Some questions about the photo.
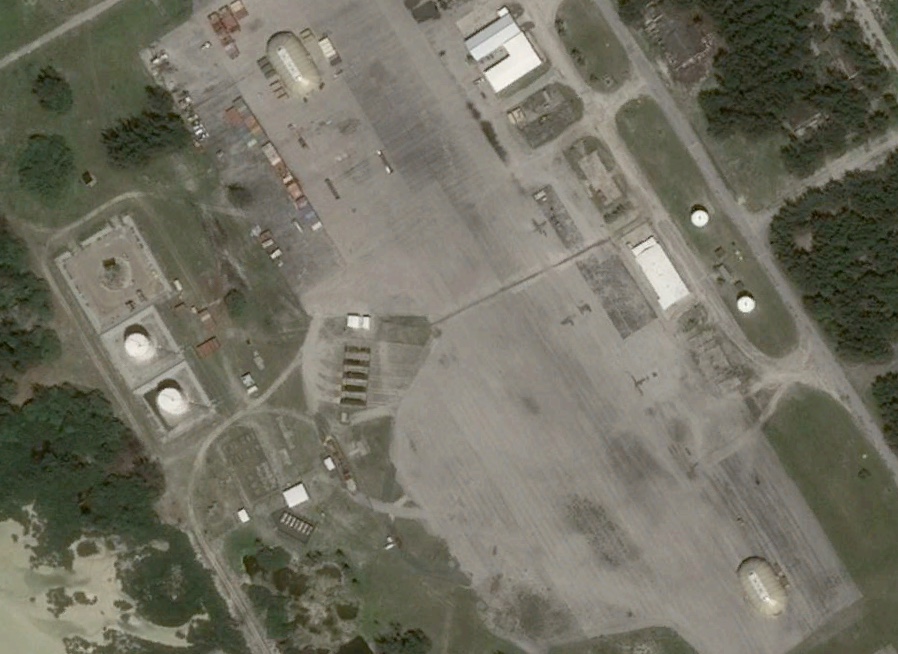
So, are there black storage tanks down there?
No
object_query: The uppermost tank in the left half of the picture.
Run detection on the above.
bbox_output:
[125,333,156,364]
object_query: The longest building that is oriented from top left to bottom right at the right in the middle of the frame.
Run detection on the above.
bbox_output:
[638,245,691,312]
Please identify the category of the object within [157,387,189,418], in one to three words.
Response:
storage tank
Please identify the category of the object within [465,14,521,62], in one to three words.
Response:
shed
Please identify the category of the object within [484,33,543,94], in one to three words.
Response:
building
